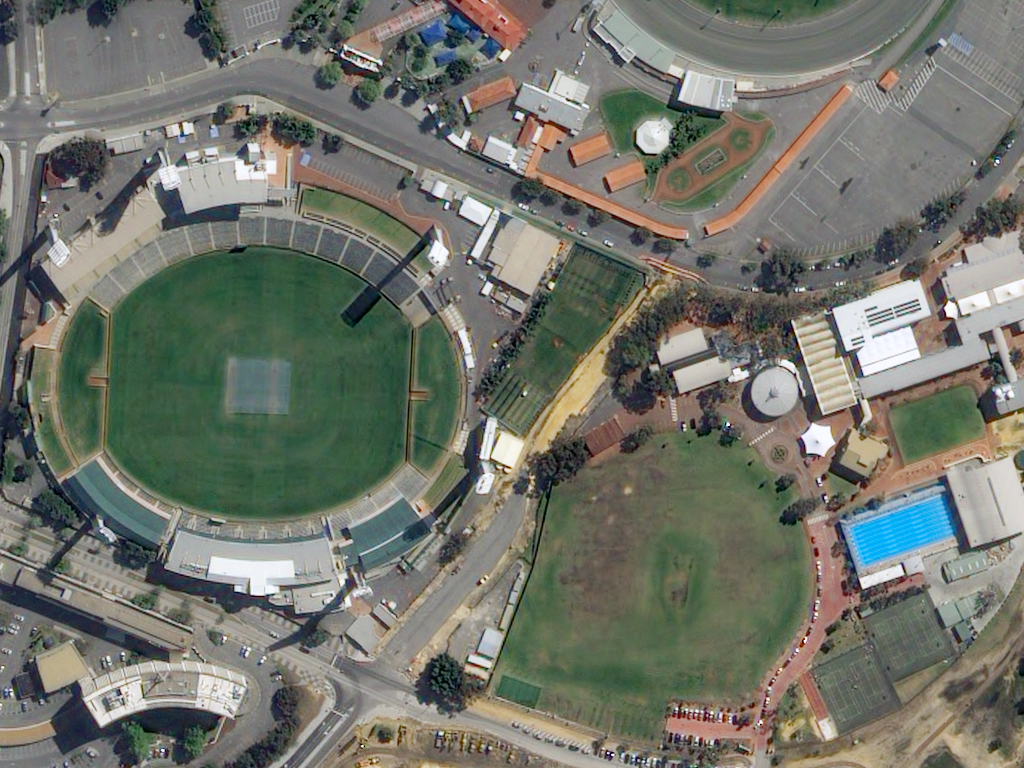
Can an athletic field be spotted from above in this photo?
Yes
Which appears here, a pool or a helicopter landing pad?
pool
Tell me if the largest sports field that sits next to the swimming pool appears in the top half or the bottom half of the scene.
bottom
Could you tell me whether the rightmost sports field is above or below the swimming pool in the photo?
above it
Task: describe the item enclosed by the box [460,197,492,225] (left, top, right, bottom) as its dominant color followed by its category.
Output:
white tent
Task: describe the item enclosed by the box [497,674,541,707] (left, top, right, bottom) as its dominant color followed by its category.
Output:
green sports field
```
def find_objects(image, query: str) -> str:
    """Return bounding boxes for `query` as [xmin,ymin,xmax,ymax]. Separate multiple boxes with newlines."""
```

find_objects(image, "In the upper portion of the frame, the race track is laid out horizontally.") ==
[610,0,931,74]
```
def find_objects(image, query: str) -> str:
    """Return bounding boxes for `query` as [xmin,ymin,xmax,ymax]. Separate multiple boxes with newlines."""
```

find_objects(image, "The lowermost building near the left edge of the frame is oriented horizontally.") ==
[0,718,56,746]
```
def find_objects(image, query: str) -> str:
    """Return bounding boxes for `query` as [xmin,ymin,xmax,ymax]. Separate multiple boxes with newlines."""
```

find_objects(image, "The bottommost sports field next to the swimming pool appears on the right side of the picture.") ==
[495,432,810,748]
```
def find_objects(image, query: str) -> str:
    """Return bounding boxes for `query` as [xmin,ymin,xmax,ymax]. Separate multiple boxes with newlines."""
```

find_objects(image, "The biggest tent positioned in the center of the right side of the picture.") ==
[800,421,836,456]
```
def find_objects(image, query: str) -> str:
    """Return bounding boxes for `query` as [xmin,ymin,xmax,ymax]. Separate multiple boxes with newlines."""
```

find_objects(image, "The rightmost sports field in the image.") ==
[886,385,990,478]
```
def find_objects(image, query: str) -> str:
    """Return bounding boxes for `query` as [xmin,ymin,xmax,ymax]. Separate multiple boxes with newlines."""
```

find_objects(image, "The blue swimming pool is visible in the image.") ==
[838,484,966,576]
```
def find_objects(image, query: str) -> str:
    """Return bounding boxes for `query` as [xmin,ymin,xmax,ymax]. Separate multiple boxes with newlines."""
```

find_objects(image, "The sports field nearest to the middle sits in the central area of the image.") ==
[481,243,645,436]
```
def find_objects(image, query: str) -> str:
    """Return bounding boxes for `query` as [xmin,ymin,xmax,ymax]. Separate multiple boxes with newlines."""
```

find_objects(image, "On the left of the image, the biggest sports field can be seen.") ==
[104,244,414,522]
